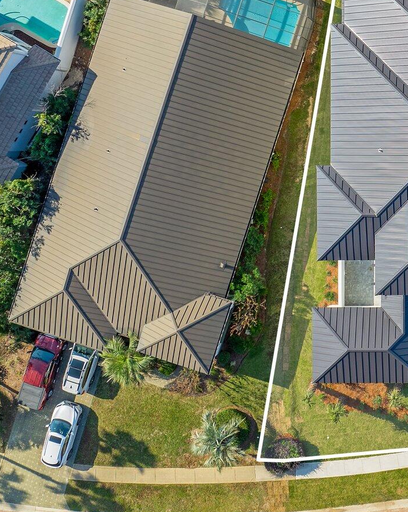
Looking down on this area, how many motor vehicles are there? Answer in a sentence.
The picture shows 3 motor vehicles.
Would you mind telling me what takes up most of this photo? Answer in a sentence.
What you mostly see from above here is buildings.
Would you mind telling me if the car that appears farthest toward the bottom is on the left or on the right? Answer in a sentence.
The car that appears farthest toward the bottom sits on the left side.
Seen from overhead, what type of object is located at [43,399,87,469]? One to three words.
car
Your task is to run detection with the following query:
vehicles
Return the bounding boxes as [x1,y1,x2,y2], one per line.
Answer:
[16,329,68,411]
[64,337,104,398]
[43,399,87,469]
